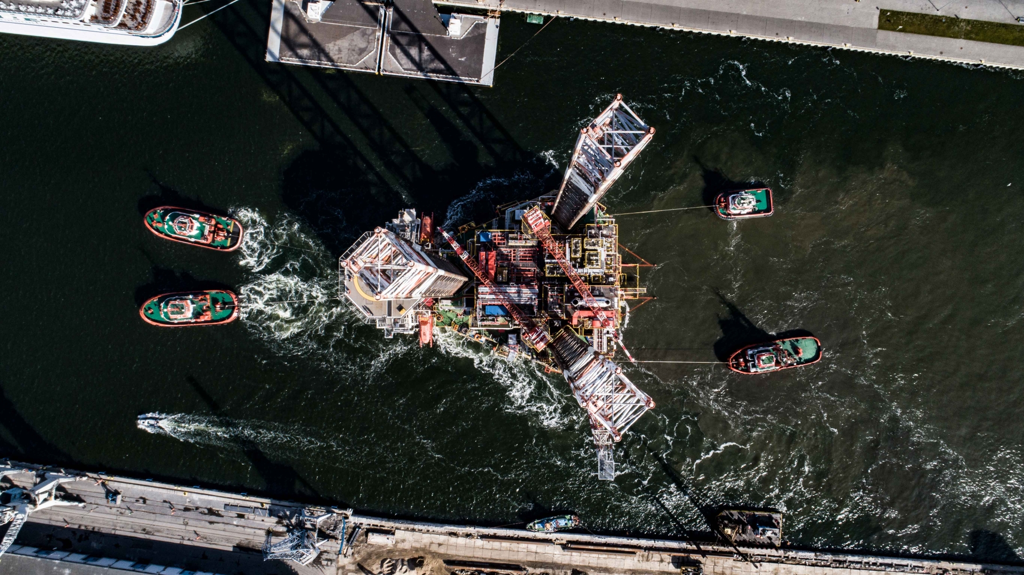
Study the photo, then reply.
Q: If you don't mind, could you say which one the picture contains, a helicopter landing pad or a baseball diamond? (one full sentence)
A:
Of the two, only a helicopter landing pad appears.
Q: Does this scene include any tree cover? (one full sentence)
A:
No, there is no tree cover in the image.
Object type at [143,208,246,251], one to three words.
boat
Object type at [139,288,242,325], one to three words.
boat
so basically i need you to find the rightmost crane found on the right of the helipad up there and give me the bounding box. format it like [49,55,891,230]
[519,202,635,364]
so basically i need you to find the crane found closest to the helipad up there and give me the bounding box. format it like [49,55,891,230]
[438,227,552,353]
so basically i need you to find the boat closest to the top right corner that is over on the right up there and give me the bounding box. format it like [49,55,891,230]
[712,186,773,220]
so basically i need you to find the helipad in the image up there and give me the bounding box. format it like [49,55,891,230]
[339,231,427,323]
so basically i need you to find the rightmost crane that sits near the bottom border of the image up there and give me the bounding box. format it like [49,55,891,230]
[261,498,344,567]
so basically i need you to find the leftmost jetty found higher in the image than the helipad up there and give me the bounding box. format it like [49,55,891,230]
[265,0,386,76]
